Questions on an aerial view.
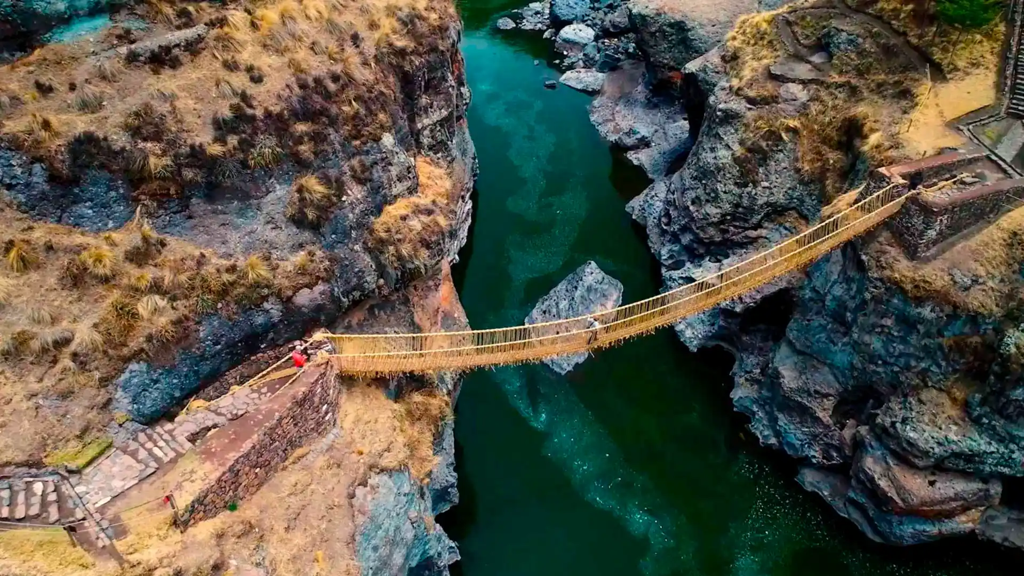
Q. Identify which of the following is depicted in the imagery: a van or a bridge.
bridge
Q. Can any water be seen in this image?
Yes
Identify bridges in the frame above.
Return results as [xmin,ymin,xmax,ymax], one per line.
[309,176,921,383]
